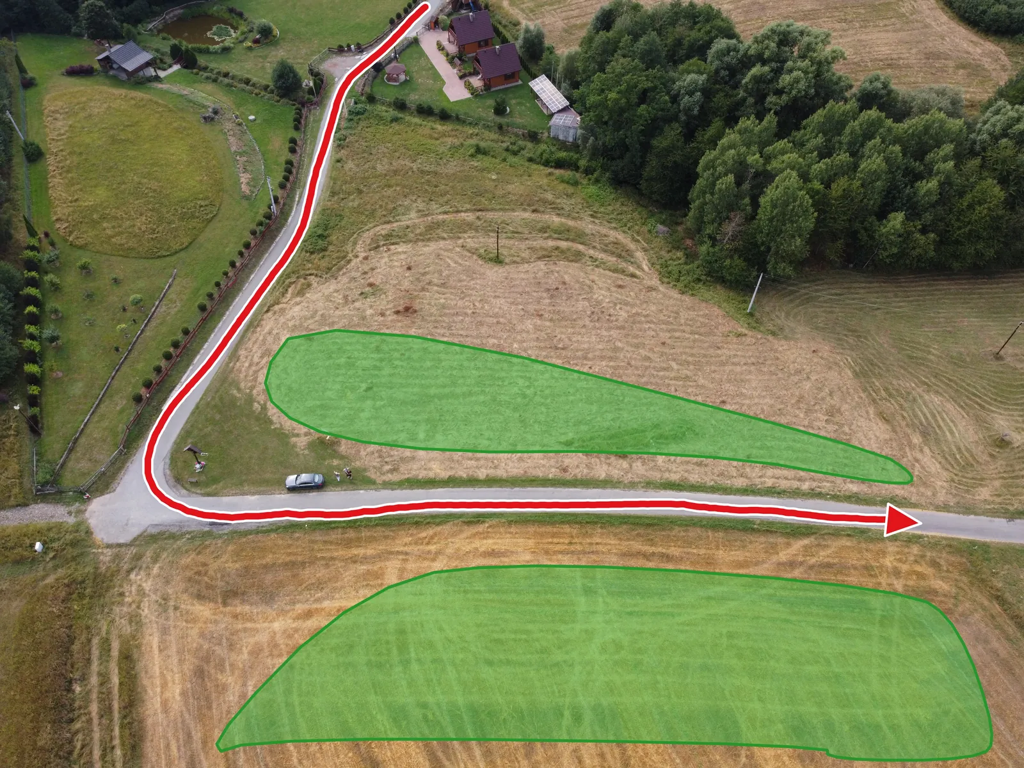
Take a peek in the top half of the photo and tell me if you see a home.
Yes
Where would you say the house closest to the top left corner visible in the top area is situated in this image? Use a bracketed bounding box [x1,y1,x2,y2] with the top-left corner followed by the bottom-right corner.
[102,36,169,80]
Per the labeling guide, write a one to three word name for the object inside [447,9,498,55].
house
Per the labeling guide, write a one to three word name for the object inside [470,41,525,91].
house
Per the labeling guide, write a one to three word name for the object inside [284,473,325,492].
car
